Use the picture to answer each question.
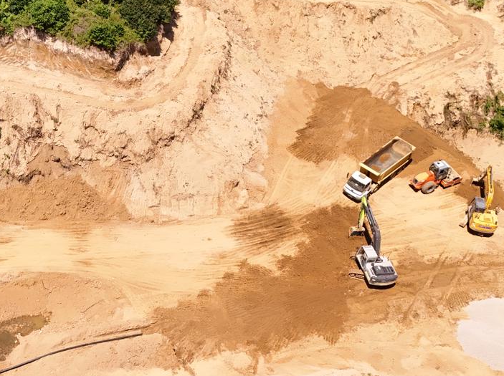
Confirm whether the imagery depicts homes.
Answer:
No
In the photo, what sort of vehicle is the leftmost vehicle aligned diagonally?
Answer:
truck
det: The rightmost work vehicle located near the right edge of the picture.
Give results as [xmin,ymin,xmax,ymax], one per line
[455,166,496,239]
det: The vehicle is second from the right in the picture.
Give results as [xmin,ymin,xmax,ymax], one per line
[411,162,463,200]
